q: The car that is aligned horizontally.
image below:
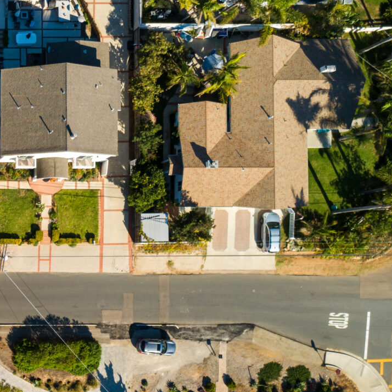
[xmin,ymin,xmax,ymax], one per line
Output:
[134,337,175,356]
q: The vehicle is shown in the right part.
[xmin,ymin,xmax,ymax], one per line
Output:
[260,212,281,250]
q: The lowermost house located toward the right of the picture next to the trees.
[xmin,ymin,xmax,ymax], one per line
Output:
[163,37,366,208]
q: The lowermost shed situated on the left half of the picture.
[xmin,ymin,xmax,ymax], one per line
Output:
[135,213,169,243]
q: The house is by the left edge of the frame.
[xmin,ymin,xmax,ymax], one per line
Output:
[0,38,120,180]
